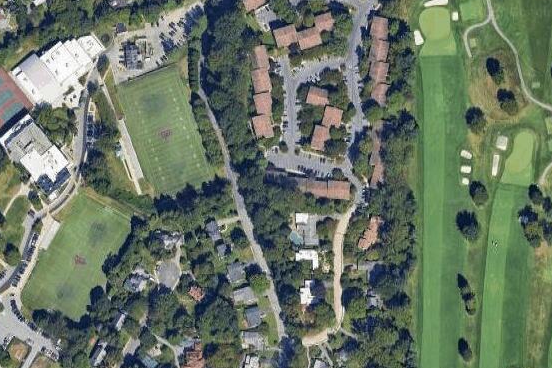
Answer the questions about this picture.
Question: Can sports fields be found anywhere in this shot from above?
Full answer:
Yes, the frame does contain a sports field.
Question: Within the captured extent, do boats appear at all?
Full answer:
No, the frame has no boat in it.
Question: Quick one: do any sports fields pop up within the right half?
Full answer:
No, I see no sports field within the right half.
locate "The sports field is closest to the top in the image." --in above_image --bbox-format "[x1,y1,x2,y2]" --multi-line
[117,62,212,197]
